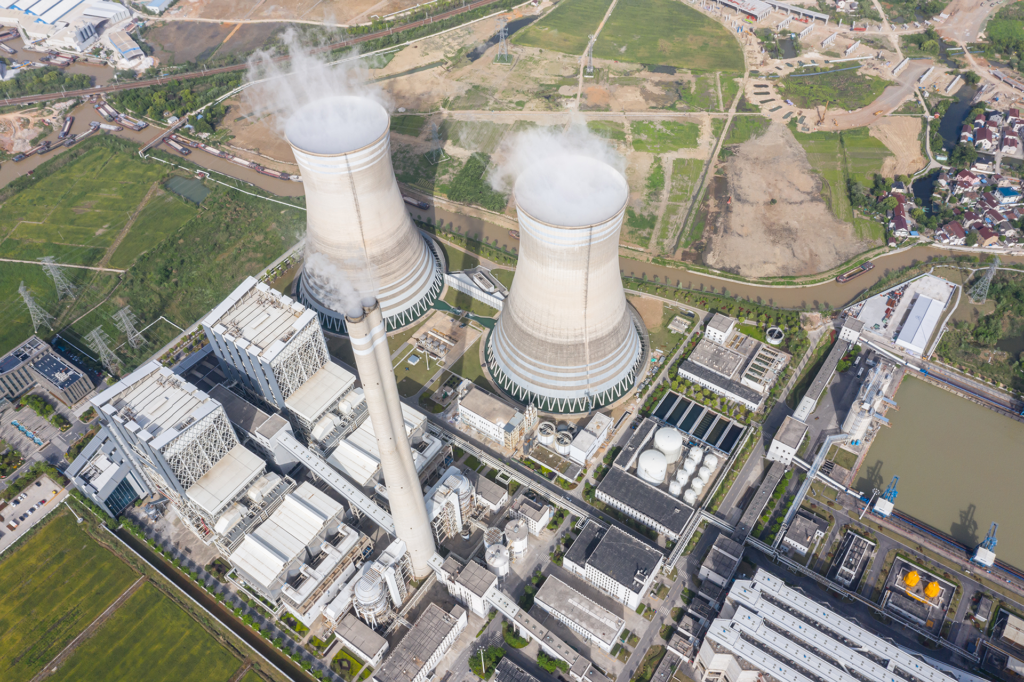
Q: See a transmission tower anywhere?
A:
Yes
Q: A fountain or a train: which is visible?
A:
fountain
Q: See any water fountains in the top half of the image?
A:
No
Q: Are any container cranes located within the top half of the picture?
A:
No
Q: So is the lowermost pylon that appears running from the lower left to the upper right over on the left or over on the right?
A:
right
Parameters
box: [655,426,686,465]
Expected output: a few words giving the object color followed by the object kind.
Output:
white storage tank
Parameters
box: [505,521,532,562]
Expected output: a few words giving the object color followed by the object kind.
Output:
white silo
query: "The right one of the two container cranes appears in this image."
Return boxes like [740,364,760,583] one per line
[968,514,1010,572]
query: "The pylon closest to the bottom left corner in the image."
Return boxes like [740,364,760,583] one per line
[85,331,126,379]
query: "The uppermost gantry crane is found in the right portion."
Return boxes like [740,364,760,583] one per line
[870,466,908,522]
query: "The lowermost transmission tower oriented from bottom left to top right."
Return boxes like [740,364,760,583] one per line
[963,260,1006,306]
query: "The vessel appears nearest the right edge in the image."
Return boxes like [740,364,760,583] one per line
[836,258,878,281]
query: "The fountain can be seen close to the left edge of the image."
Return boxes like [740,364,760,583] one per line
[10,420,44,446]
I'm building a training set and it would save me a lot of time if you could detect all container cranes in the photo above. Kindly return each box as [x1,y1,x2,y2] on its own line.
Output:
[968,514,1010,572]
[870,466,908,522]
